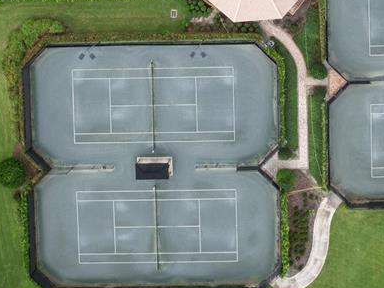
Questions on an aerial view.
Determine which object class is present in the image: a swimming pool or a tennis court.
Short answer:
tennis court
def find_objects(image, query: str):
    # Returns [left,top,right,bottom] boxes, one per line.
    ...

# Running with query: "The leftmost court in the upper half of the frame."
[30,44,278,168]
